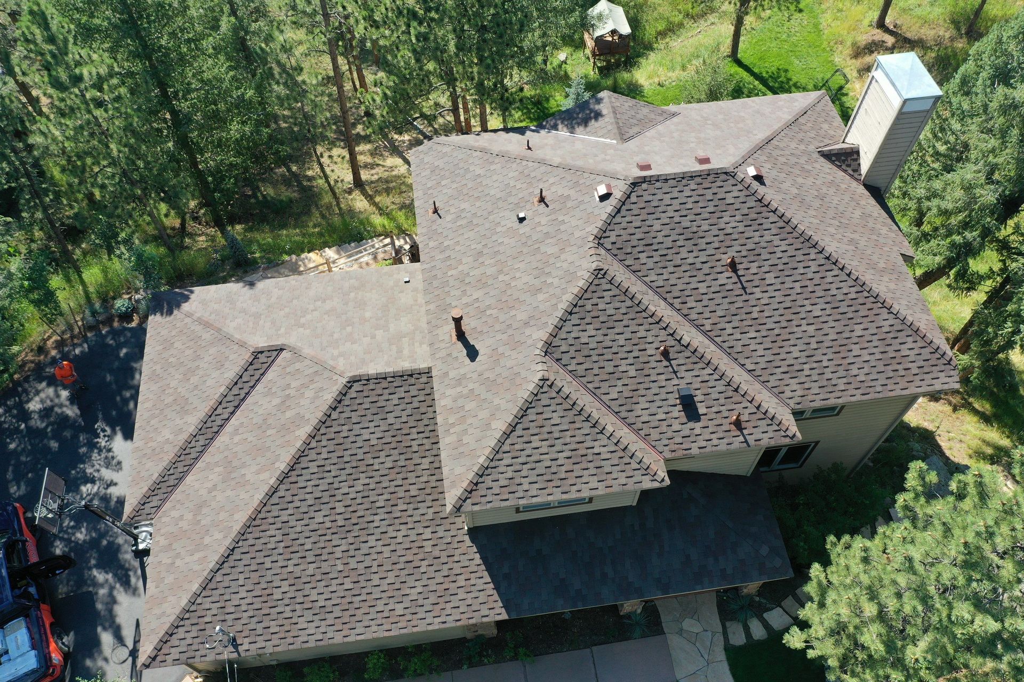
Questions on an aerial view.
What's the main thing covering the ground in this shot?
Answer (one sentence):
The scene is dominated by buildings.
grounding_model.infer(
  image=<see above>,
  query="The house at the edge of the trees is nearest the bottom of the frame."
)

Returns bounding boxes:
[125,55,960,682]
